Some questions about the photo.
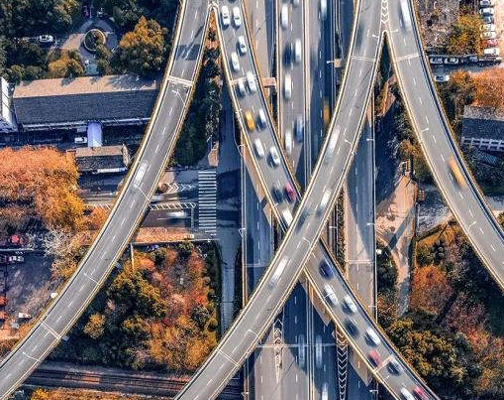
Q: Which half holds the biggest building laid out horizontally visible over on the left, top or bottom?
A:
top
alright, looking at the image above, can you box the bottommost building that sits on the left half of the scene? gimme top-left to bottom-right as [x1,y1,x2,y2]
[75,144,129,176]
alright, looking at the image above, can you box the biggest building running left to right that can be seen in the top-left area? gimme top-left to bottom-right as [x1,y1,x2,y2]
[14,74,161,136]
